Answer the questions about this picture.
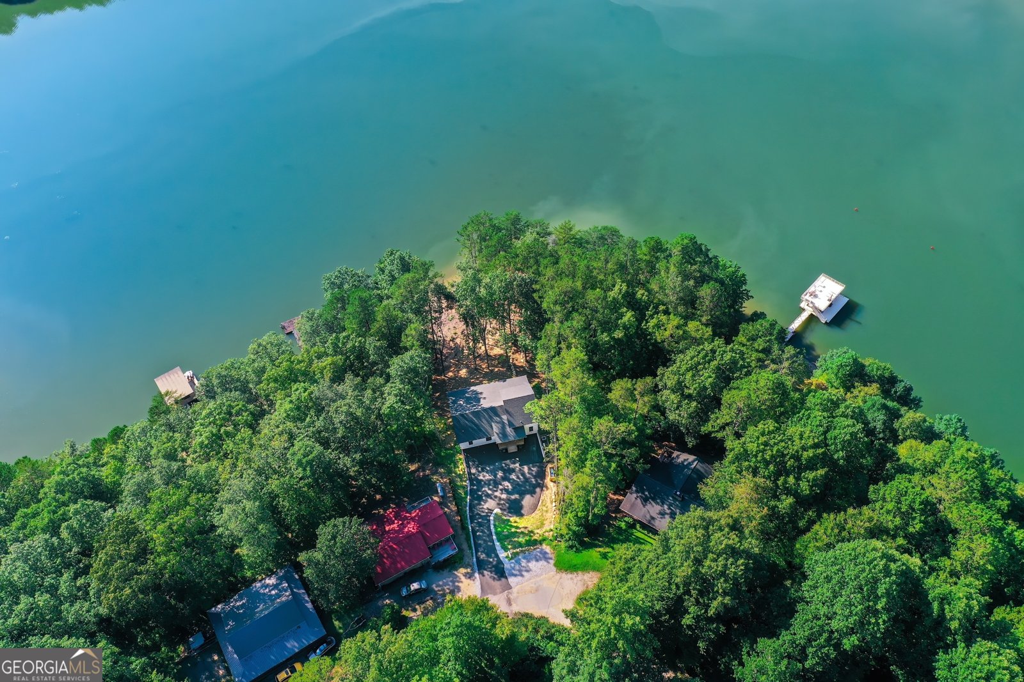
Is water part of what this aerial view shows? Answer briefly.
Yes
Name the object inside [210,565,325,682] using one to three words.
house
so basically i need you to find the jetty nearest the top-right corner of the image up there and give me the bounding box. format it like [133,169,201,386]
[793,271,853,327]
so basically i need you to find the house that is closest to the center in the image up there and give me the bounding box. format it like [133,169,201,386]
[446,374,538,455]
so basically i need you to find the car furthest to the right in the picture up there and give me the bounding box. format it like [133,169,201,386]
[400,580,428,596]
